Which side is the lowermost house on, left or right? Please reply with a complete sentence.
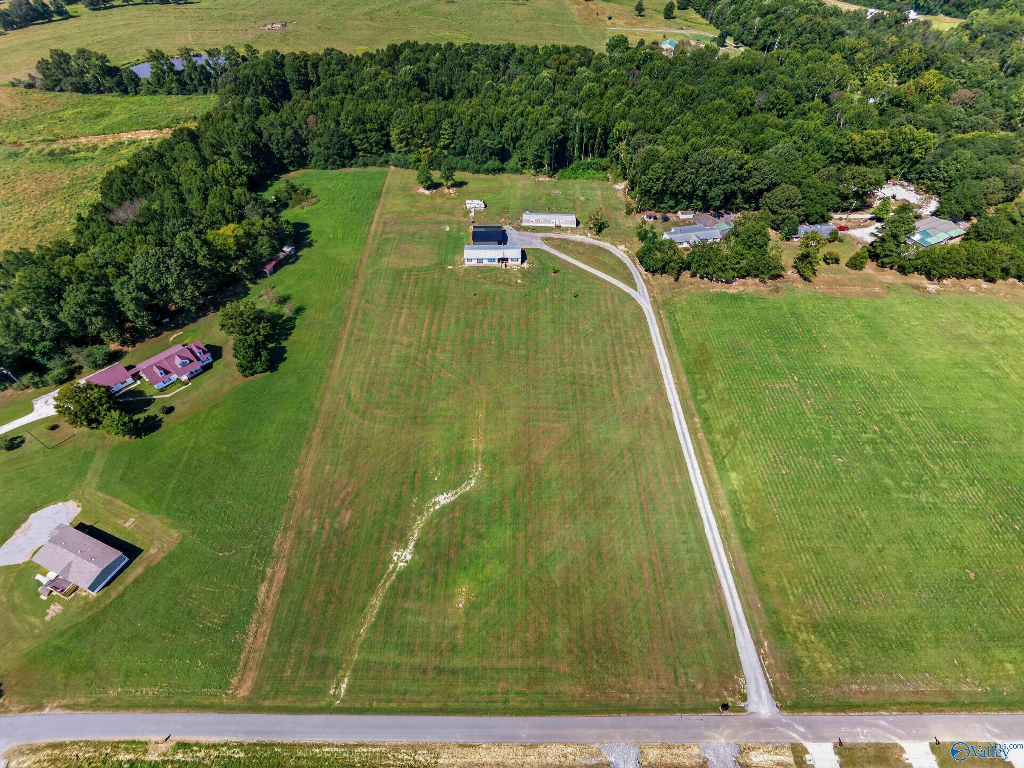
The lowermost house appears in the left half of the scene.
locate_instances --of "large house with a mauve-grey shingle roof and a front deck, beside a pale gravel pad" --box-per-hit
[31,524,127,601]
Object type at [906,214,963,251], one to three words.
house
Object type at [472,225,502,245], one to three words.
building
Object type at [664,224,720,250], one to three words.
house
